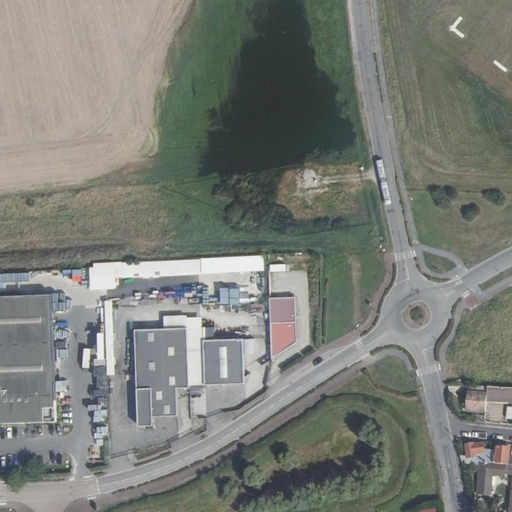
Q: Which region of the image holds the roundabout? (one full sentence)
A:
The roundabout is in the right part of the image.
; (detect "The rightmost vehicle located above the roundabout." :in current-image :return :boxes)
[376,160,392,206]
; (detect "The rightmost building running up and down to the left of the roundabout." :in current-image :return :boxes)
[270,297,296,358]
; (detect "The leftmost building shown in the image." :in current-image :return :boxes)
[0,294,56,425]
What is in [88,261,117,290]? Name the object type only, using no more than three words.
building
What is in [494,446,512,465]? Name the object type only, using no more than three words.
house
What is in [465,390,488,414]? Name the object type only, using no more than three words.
house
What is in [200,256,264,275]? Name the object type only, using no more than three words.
shed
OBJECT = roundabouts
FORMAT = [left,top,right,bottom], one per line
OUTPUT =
[366,254,466,366]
